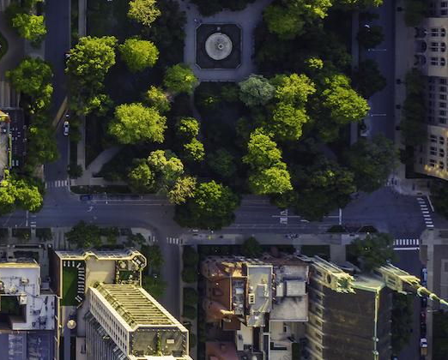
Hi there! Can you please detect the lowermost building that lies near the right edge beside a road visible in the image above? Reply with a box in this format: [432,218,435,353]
[273,242,448,360]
